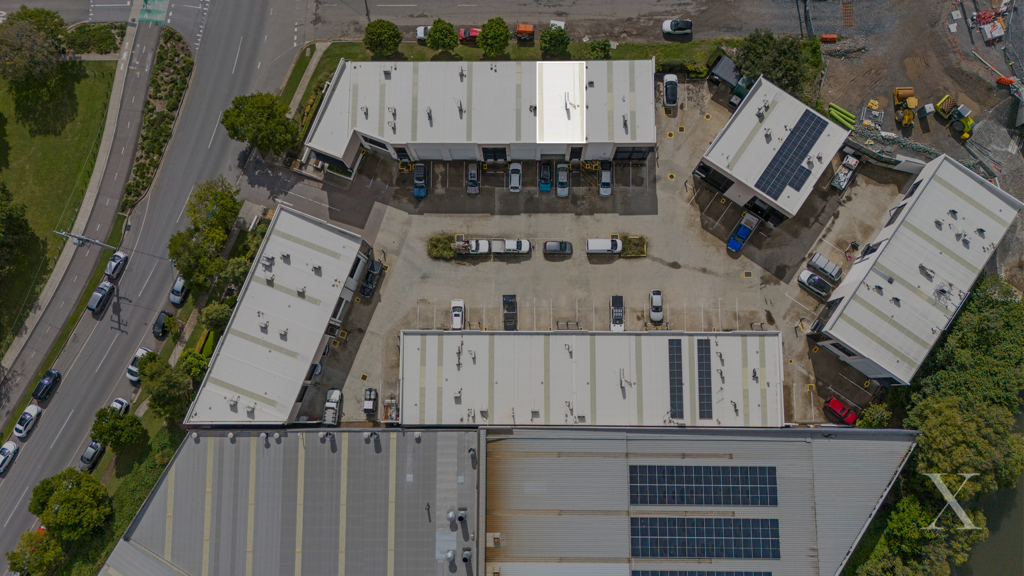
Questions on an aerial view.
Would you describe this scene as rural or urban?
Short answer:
urban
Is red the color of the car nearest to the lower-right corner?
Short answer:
Yes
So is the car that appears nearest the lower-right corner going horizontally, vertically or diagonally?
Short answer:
diagonally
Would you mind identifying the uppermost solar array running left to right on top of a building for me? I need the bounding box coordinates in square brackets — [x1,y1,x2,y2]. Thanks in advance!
[630,466,778,507]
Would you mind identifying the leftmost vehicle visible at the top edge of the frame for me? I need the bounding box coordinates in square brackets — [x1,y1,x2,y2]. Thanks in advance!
[412,24,433,42]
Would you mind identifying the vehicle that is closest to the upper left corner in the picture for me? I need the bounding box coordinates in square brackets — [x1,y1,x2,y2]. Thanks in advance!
[102,249,132,282]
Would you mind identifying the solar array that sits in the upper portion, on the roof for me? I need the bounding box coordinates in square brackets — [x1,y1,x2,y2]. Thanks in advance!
[758,110,828,200]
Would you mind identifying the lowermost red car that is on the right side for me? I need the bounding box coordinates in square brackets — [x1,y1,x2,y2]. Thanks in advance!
[823,395,859,425]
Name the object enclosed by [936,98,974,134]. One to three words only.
work vehicle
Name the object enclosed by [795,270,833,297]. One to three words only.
car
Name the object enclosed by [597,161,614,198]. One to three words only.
vehicle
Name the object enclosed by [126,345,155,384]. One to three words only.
truck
